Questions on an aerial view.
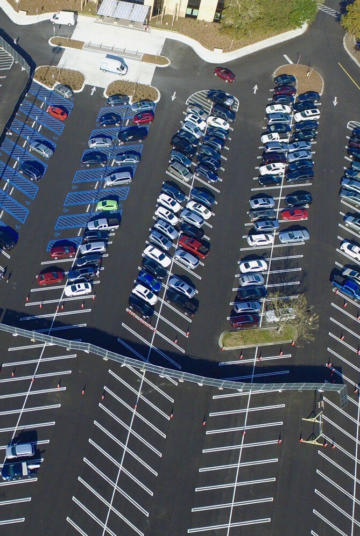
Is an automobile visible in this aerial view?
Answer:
Yes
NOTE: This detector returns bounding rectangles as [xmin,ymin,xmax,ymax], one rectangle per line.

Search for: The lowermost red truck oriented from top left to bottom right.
[179,235,211,258]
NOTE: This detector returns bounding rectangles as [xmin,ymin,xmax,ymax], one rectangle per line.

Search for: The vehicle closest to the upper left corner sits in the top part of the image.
[51,12,77,26]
